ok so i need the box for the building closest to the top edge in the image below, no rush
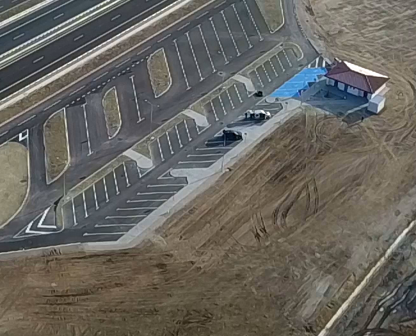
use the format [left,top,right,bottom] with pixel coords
[325,61,391,100]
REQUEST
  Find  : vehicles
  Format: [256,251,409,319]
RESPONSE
[253,89,267,97]
[222,132,243,142]
[245,108,272,122]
